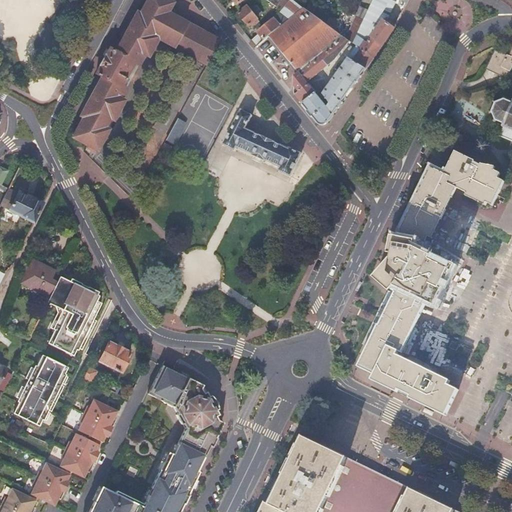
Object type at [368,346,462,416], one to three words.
building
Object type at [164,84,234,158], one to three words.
basketball court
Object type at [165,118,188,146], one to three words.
shed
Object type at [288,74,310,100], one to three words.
house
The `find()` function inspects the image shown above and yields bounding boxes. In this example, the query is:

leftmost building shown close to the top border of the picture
[80,0,222,142]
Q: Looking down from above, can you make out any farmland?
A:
No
